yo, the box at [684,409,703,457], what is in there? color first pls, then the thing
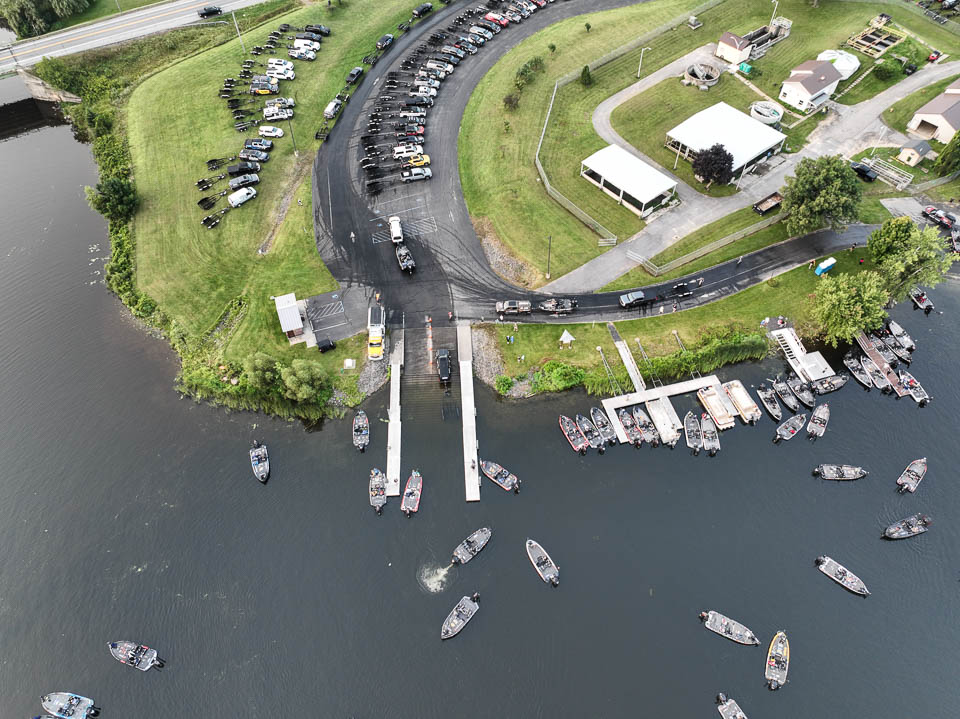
gray boat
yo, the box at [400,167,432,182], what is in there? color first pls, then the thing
white vehicle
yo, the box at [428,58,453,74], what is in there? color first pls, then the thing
white car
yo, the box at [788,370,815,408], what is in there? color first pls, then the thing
gray boat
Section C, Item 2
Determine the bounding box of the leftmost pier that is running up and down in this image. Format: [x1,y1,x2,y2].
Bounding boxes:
[385,367,401,497]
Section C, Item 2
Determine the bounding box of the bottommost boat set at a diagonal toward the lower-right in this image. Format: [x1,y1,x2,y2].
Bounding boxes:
[717,690,744,719]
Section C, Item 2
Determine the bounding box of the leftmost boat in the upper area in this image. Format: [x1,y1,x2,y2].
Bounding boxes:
[397,240,412,275]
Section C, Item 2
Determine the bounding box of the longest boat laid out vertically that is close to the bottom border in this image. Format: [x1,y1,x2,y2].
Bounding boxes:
[767,629,789,688]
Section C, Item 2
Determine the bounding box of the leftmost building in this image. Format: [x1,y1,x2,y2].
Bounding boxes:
[276,294,305,340]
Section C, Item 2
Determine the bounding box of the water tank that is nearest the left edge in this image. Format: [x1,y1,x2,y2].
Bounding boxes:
[684,61,723,90]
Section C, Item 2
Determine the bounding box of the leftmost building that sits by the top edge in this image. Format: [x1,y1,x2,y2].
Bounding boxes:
[716,28,757,64]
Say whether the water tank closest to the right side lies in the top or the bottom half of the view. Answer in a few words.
top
